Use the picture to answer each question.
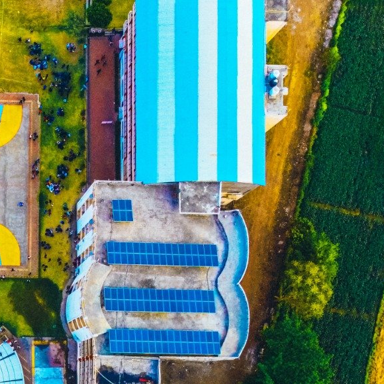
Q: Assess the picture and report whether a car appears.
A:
No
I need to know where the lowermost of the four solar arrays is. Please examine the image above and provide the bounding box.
[109,328,220,354]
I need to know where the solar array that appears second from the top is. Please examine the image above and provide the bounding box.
[107,241,218,266]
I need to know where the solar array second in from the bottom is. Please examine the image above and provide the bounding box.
[104,288,215,313]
